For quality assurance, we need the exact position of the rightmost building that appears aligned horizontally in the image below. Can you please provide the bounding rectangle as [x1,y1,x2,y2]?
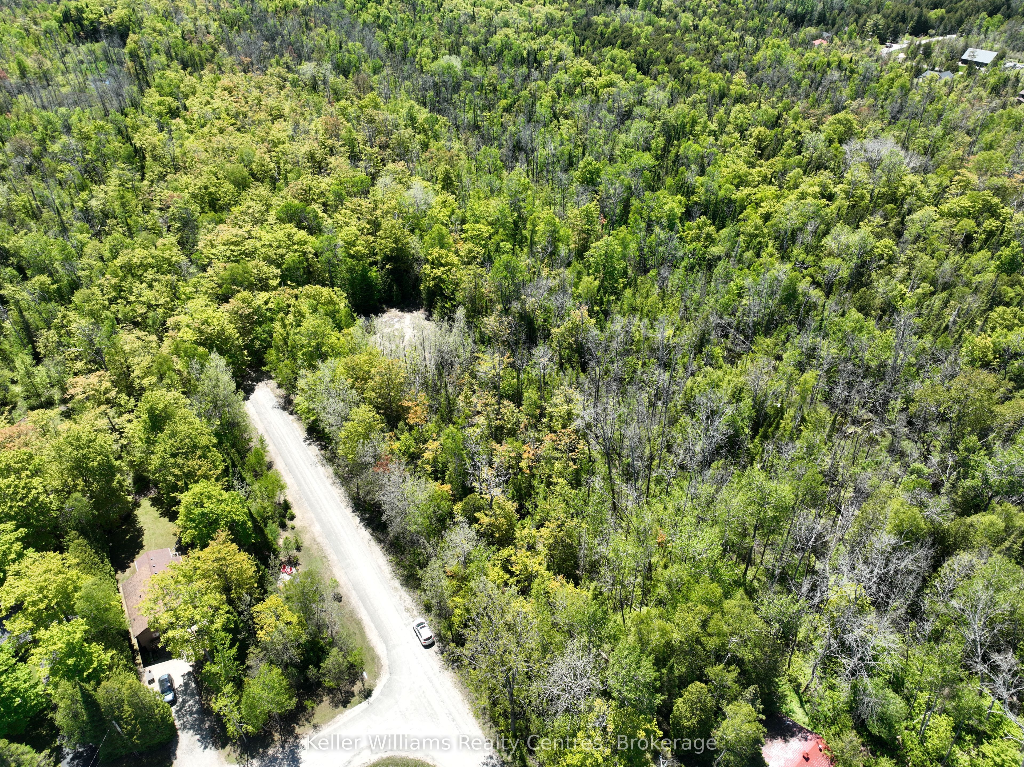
[960,47,1013,70]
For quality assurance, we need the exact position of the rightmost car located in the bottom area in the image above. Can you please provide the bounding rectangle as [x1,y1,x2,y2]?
[414,617,436,650]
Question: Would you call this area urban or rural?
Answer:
rural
